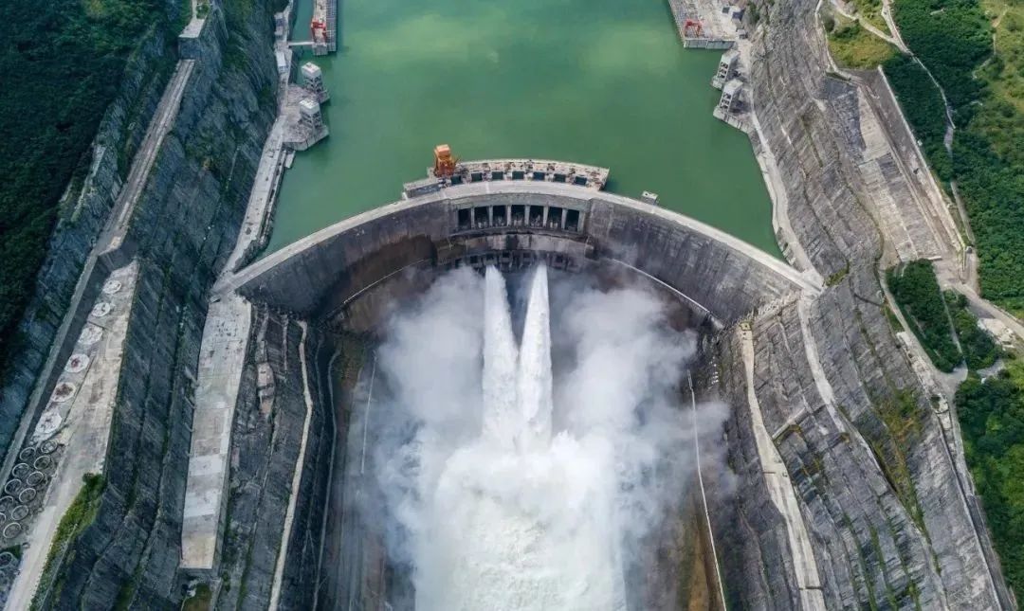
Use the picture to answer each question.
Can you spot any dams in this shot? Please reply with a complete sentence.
Yes, a dam appears in the view.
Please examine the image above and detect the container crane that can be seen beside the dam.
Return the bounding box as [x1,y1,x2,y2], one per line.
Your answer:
[430,144,464,181]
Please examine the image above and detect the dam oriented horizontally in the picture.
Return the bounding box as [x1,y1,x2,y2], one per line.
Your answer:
[216,163,822,380]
